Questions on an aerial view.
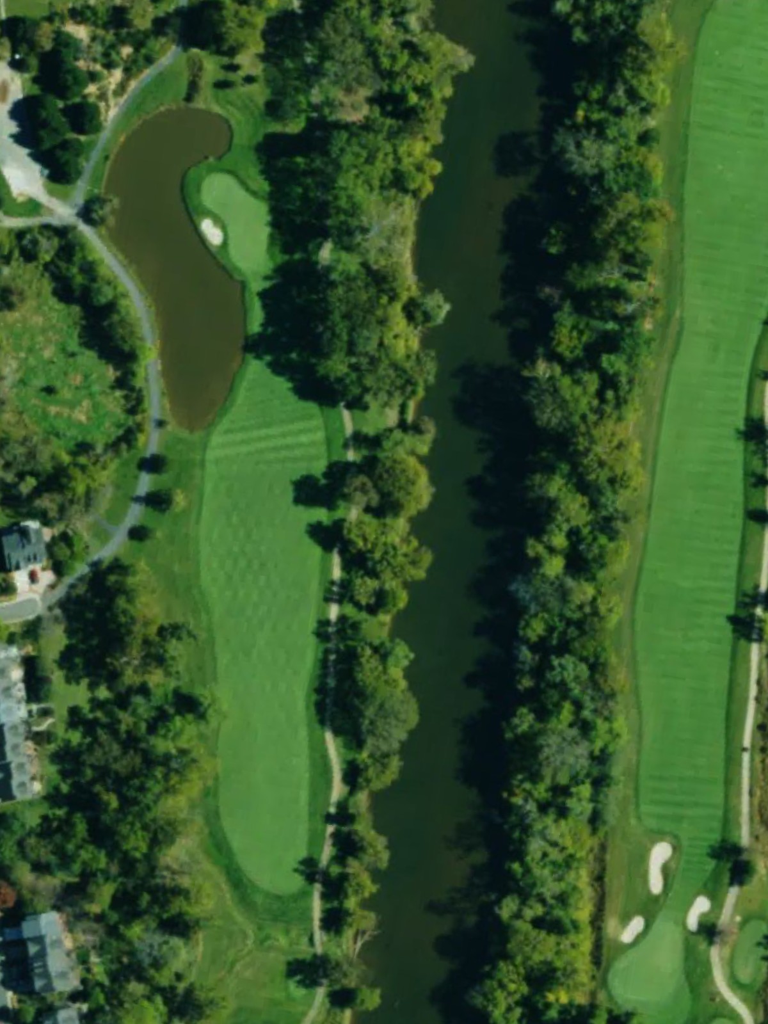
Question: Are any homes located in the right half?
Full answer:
No, I can find no home in the right half.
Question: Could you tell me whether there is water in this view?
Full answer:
Yes, water can be seen from above here.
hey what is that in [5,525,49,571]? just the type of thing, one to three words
house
